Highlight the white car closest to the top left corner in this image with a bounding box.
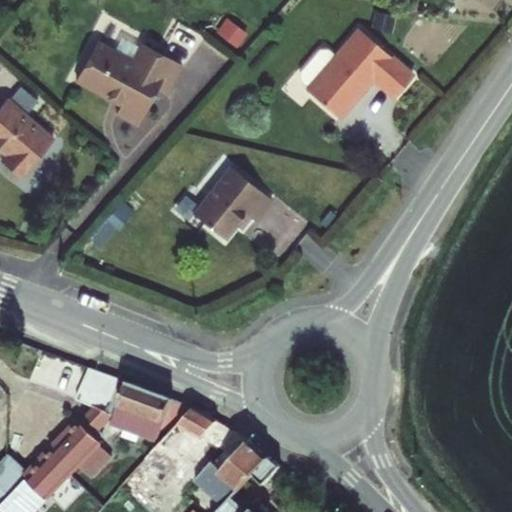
[172,30,193,48]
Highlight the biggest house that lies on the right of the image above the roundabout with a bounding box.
[308,29,415,120]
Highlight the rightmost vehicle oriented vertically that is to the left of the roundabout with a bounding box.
[60,367,72,390]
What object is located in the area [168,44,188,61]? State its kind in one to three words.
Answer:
car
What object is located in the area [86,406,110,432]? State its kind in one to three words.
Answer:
shed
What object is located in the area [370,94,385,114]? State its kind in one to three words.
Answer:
car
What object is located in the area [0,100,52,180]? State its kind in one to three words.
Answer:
house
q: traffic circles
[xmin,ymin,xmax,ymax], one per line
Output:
[242,306,392,456]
